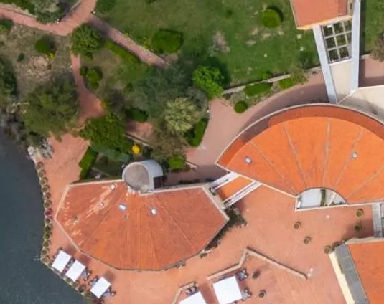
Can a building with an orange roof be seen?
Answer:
Yes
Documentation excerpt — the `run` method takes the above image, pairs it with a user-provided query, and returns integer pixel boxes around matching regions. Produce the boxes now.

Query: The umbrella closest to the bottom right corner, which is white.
[213,276,242,304]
